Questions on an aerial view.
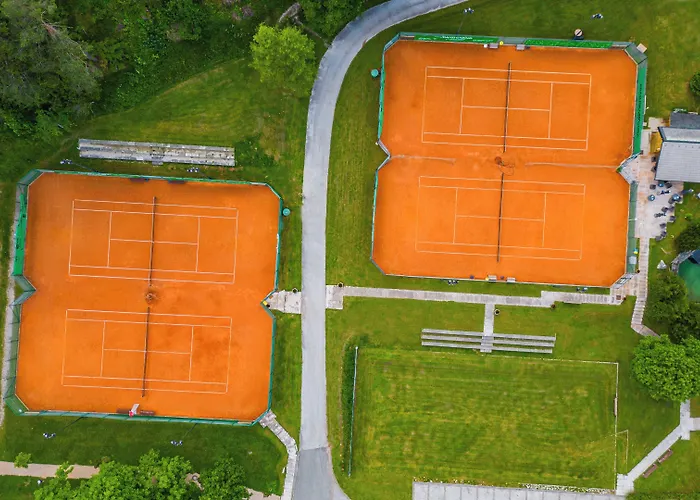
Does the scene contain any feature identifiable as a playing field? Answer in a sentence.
Yes, looking at the shot, I can spot a playing field.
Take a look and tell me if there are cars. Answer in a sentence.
No, I can see no car in this picture.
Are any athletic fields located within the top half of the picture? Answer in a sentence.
No, no athletic field appears within the top half of the picture.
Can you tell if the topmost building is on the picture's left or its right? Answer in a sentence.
It is on the right.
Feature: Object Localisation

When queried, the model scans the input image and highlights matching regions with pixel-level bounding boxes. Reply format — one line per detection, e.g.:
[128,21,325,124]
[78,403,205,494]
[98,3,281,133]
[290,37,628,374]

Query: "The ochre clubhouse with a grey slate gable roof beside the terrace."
[654,111,700,183]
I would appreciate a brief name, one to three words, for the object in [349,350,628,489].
sports field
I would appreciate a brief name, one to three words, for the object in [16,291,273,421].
tennis court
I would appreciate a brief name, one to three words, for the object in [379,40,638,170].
tennis court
